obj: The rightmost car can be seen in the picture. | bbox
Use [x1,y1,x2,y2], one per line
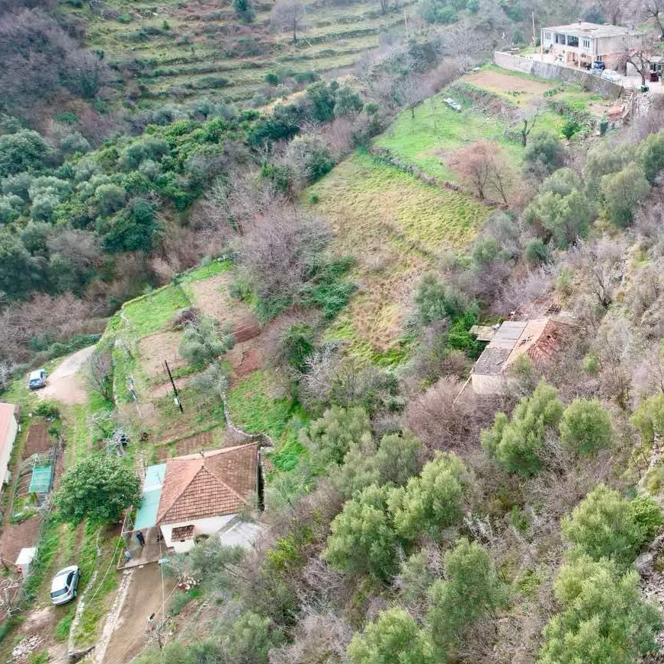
[647,68,660,81]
